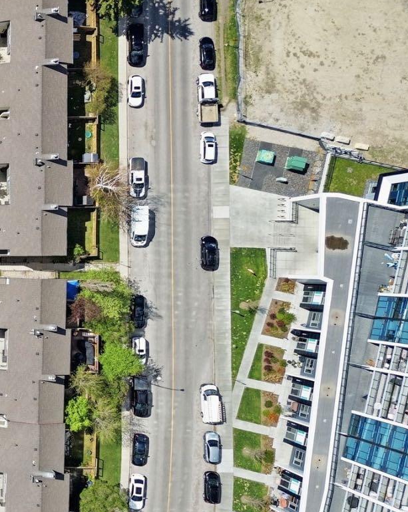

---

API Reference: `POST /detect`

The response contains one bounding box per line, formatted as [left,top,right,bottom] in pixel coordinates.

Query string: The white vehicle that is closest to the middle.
[131,206,150,246]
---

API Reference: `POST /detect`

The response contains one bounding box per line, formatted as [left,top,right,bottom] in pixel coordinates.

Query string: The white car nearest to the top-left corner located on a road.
[128,74,145,109]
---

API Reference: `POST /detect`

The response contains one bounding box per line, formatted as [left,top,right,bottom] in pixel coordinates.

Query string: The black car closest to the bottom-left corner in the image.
[132,430,149,466]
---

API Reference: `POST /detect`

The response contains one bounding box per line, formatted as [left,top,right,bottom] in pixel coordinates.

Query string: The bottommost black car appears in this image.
[202,469,221,504]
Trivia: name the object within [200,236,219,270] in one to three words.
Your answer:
car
